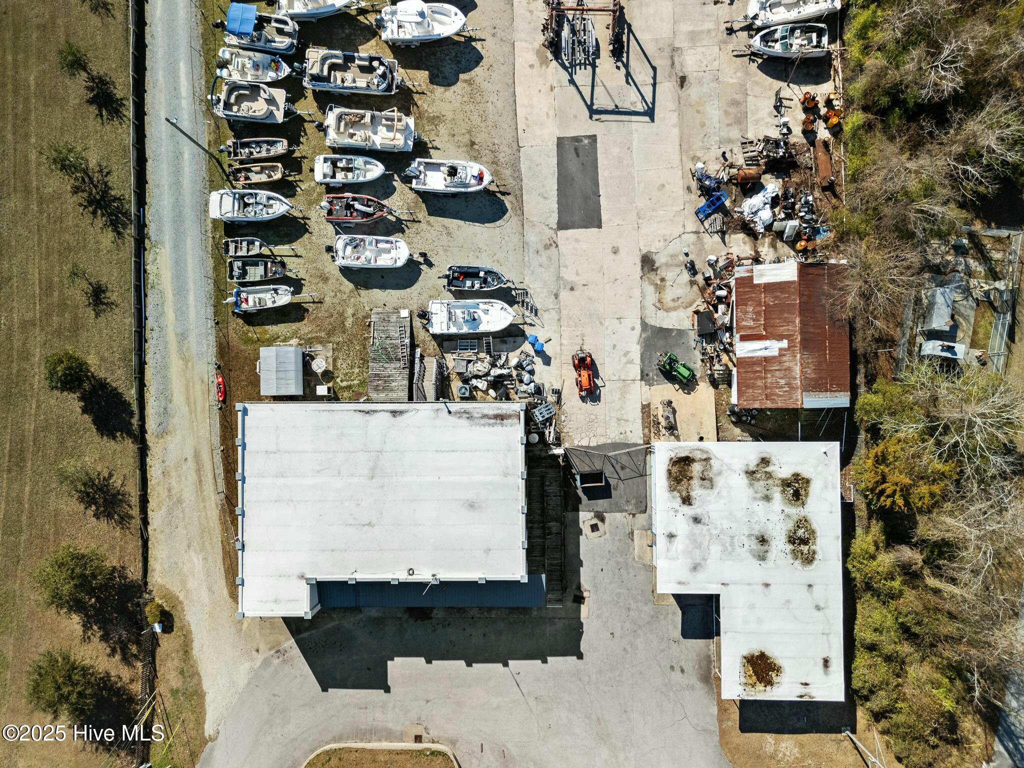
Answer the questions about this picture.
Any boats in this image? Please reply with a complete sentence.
Yes, this view includes a boat.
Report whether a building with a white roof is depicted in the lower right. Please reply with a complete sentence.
Yes, a building with a white roof appears in the lower right.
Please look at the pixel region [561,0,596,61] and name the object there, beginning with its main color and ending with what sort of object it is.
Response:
gray trailer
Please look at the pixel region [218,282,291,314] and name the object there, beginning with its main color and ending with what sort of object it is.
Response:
white boat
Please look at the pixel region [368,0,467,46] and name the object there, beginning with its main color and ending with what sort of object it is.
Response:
white boat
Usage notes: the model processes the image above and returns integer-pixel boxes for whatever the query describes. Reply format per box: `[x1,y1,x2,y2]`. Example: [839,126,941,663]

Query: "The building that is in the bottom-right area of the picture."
[650,442,854,700]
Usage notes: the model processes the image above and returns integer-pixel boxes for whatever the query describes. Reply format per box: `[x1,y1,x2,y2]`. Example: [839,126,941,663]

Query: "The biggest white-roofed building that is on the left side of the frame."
[235,401,545,619]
